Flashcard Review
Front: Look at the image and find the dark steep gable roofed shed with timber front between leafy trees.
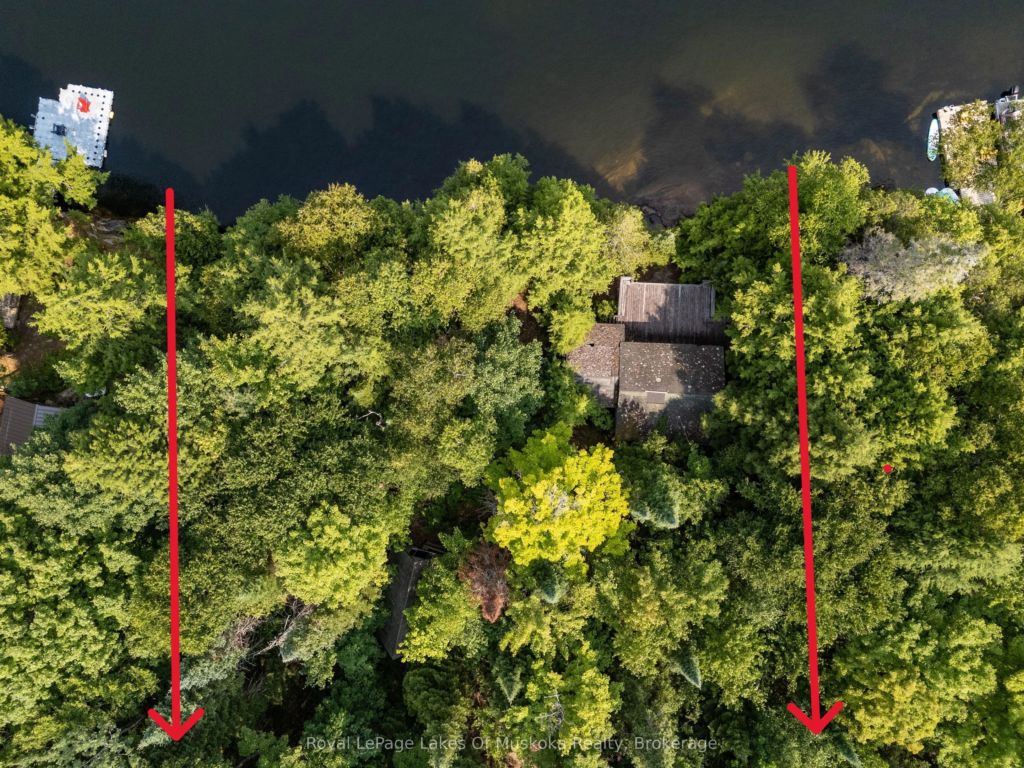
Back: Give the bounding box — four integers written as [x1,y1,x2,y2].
[375,526,443,660]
